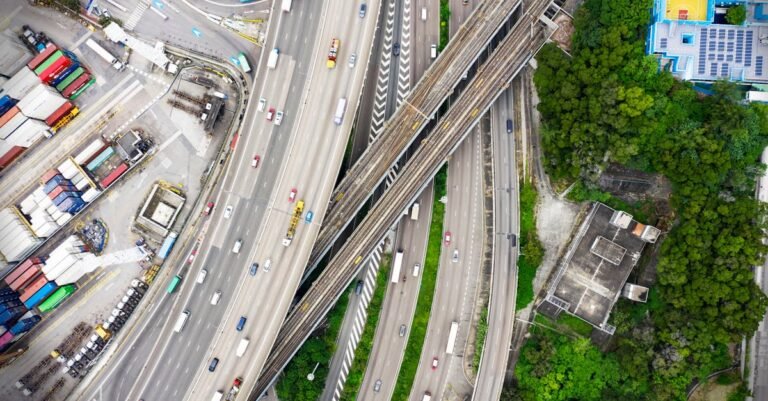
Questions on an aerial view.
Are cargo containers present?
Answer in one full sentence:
Yes, a cargo container is visible in the scene.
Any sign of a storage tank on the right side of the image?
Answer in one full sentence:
No, on the right side of the image there is no storage tank.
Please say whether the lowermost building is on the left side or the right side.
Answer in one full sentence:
The lowermost building is on the right side of the image.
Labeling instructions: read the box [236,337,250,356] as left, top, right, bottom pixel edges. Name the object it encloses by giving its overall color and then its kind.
white vehicle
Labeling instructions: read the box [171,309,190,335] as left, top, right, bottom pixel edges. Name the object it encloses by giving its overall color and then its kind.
white vehicle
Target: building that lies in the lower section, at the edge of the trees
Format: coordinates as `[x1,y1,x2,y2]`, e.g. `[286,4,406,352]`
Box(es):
[536,202,662,346]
